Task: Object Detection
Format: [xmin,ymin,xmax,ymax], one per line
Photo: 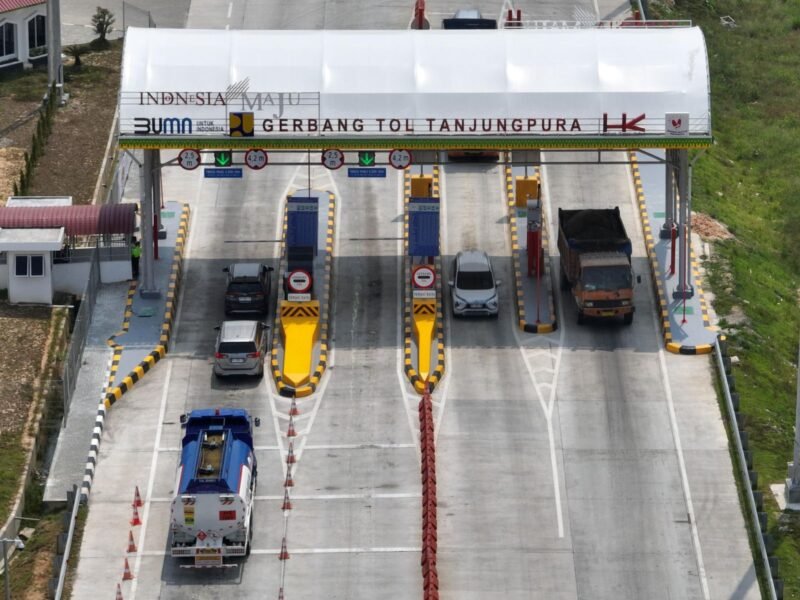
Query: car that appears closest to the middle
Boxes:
[448,248,502,314]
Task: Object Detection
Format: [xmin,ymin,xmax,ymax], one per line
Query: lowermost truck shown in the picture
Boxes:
[168,404,256,567]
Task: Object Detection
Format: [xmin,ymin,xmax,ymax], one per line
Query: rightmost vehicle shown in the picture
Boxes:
[558,203,641,321]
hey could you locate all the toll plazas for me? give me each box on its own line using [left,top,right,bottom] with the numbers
[116,2,715,294]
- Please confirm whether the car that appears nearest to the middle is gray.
Yes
